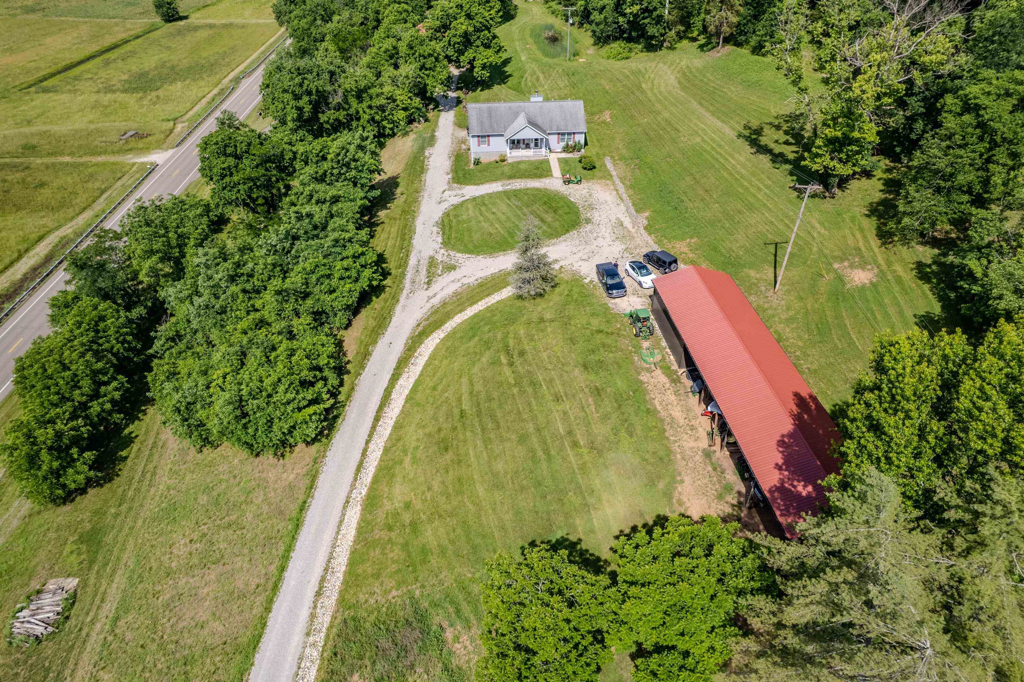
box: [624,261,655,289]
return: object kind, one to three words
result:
car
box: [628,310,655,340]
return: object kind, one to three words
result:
work vehicle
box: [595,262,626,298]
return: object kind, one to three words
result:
truck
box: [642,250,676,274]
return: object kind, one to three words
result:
car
